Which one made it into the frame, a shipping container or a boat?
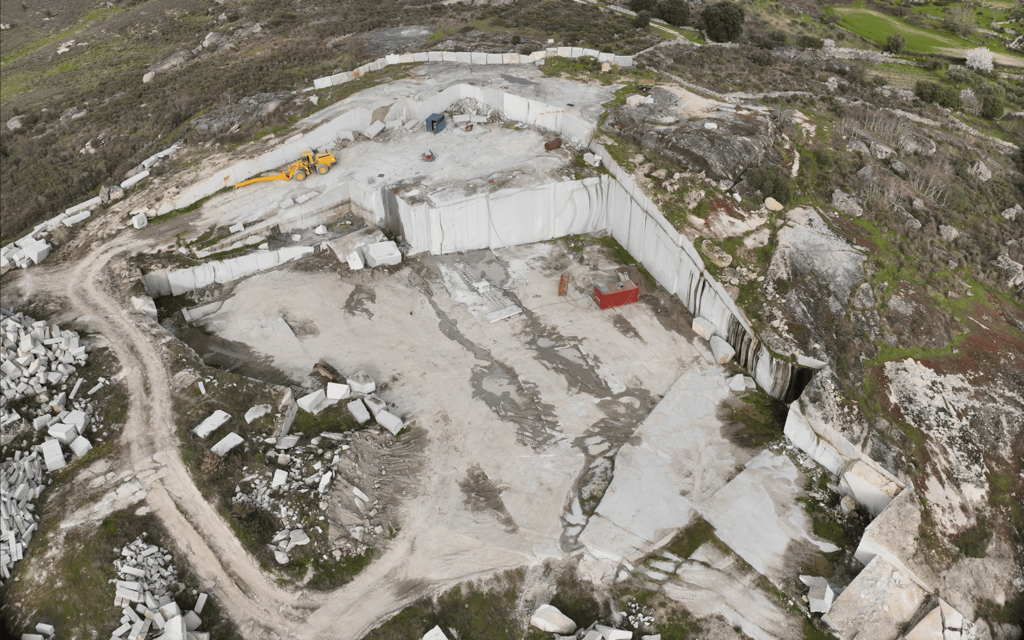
shipping container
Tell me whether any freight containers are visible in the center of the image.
Yes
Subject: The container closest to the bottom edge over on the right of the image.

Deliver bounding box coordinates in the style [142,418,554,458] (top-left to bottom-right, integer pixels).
[594,275,641,309]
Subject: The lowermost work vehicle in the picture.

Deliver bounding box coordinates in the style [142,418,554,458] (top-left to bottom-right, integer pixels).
[236,152,335,190]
